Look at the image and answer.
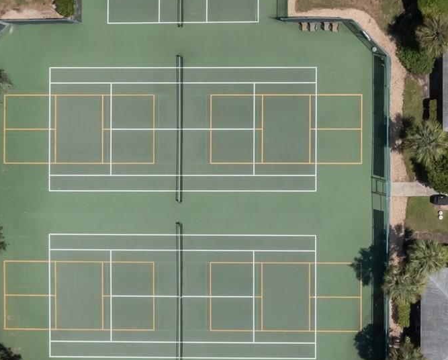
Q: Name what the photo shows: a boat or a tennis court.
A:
tennis court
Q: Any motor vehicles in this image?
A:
No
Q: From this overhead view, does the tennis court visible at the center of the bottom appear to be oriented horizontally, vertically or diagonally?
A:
horizontally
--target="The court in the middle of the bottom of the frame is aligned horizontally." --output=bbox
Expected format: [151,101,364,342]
[4,234,363,359]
